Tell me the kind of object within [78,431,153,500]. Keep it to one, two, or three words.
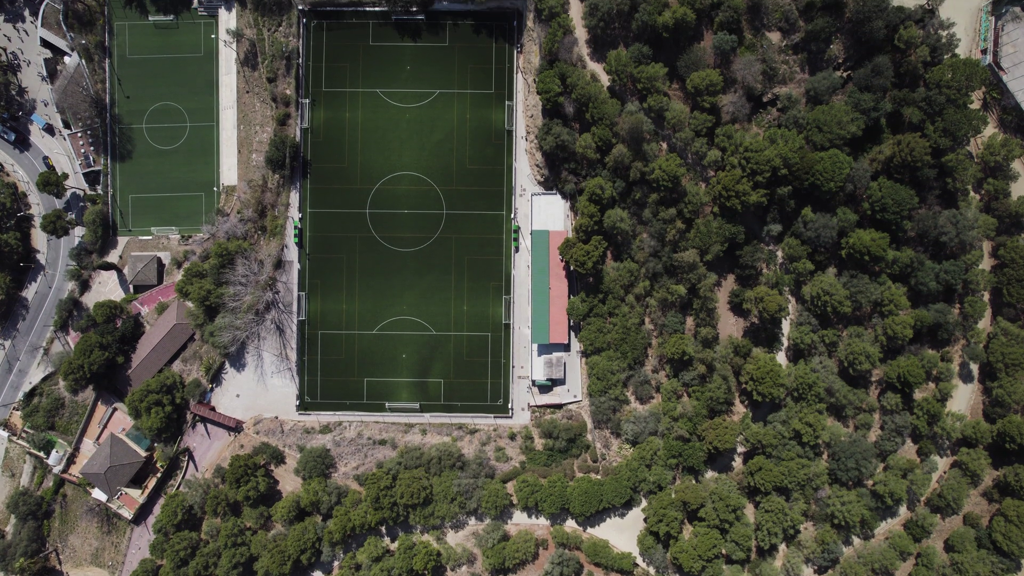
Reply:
house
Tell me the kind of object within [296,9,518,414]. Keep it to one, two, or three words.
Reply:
soccer field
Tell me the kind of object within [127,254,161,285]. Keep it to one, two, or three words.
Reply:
house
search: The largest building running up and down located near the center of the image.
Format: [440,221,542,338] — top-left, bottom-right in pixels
[530,192,571,344]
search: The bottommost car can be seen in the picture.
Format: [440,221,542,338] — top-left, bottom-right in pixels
[40,153,55,172]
